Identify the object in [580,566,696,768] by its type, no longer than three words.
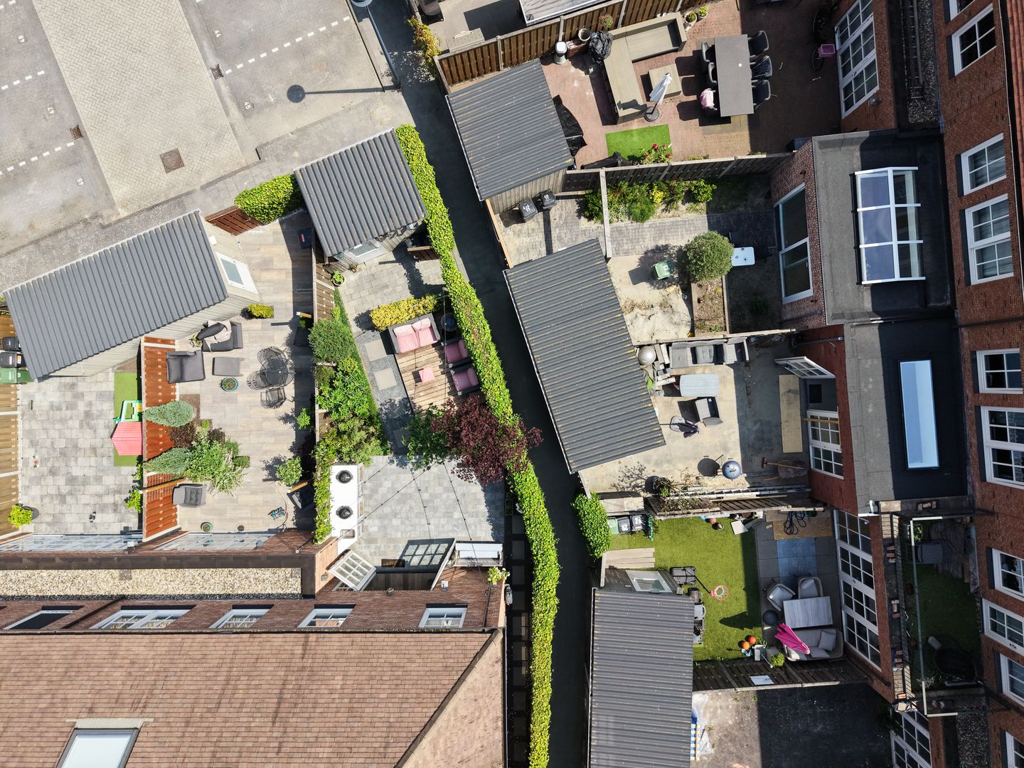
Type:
shed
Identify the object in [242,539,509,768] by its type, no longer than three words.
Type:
house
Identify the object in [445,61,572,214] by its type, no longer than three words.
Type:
shed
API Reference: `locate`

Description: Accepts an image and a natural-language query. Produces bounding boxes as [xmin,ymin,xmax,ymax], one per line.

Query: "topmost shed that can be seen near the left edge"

[2,208,257,379]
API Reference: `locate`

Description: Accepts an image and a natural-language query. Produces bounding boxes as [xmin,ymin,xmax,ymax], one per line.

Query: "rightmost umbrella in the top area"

[645,80,671,122]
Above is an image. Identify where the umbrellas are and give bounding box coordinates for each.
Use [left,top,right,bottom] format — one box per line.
[645,80,671,122]
[771,617,811,654]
